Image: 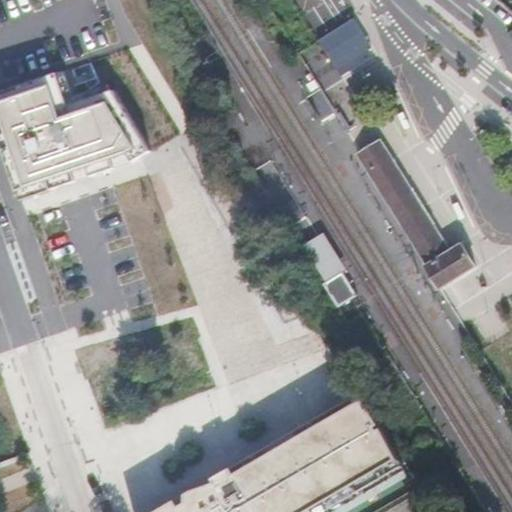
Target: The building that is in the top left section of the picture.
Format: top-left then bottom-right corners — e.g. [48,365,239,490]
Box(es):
[0,72,152,200]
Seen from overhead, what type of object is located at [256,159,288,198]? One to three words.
shed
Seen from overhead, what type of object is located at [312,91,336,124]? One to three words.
building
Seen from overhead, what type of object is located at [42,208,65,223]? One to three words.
car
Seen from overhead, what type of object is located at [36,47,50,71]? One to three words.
vehicle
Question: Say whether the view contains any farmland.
No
